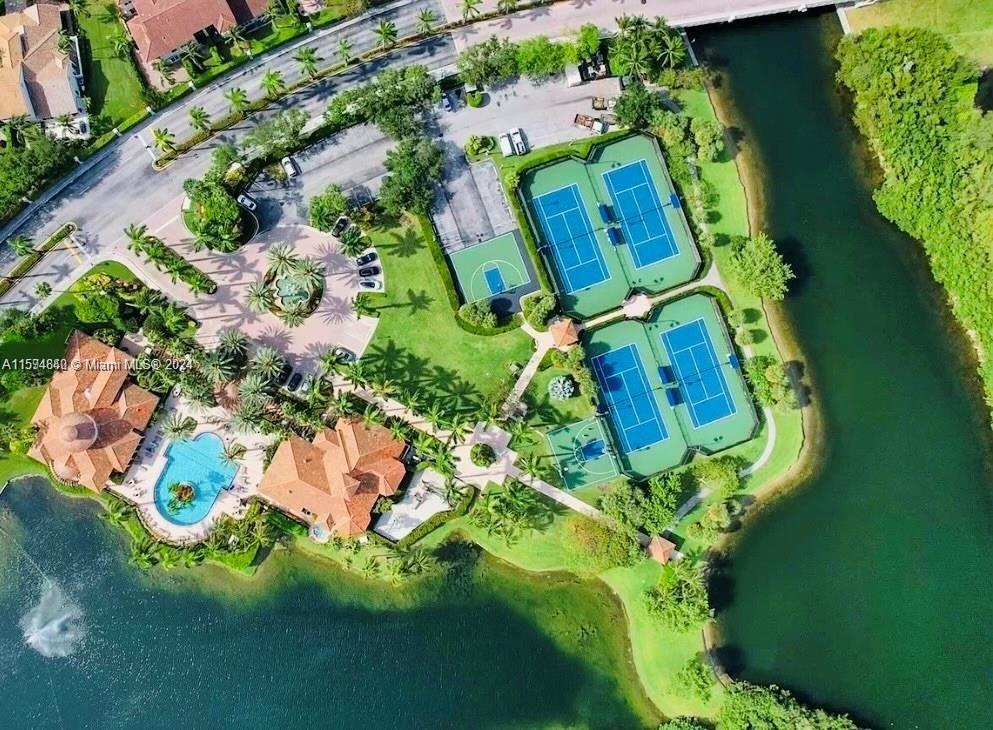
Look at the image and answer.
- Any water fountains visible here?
Yes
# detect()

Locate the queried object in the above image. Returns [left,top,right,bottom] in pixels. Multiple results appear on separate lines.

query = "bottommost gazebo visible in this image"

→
[646,532,677,562]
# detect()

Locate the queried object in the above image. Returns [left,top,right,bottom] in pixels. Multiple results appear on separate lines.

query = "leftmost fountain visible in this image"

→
[26,563,105,653]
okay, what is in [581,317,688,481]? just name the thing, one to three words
tennis court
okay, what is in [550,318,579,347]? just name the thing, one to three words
gazebo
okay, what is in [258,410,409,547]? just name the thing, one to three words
building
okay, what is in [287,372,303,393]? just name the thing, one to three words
car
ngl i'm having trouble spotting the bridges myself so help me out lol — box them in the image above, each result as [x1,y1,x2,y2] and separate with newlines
[671,0,880,28]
